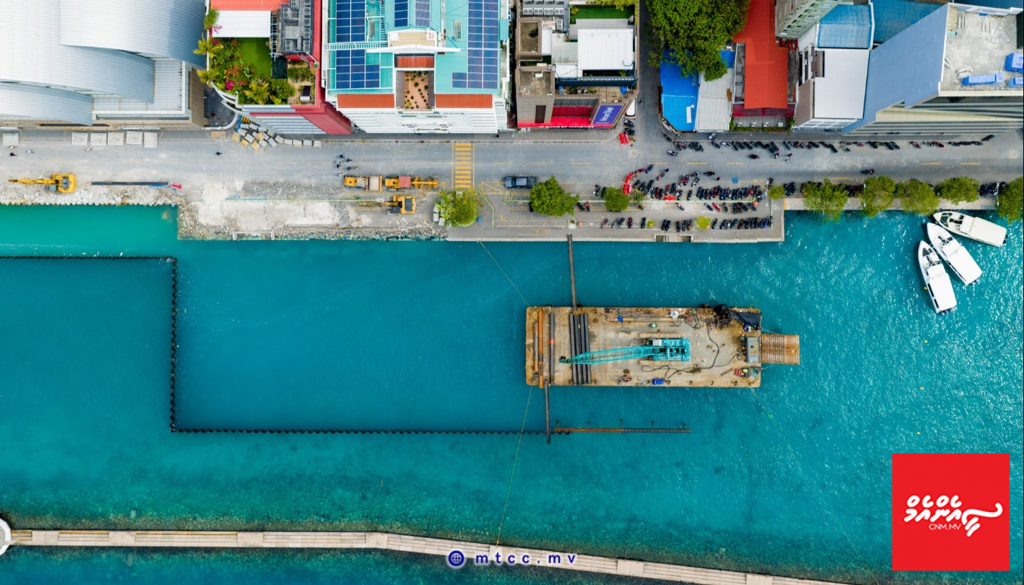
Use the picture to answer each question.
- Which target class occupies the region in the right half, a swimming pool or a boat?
boat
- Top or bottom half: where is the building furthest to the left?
top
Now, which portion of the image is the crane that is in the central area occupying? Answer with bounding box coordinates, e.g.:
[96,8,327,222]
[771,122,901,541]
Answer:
[547,331,690,365]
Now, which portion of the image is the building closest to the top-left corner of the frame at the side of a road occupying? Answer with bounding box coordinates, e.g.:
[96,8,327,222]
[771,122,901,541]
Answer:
[0,0,207,137]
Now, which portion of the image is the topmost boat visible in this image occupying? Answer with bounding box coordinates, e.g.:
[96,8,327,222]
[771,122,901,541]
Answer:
[931,210,1011,247]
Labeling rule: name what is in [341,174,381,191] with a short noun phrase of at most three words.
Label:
work vehicle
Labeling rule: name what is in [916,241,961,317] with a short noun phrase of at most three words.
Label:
boat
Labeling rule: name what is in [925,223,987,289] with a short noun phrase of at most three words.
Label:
boat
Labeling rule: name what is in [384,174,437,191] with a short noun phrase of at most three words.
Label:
work vehicle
